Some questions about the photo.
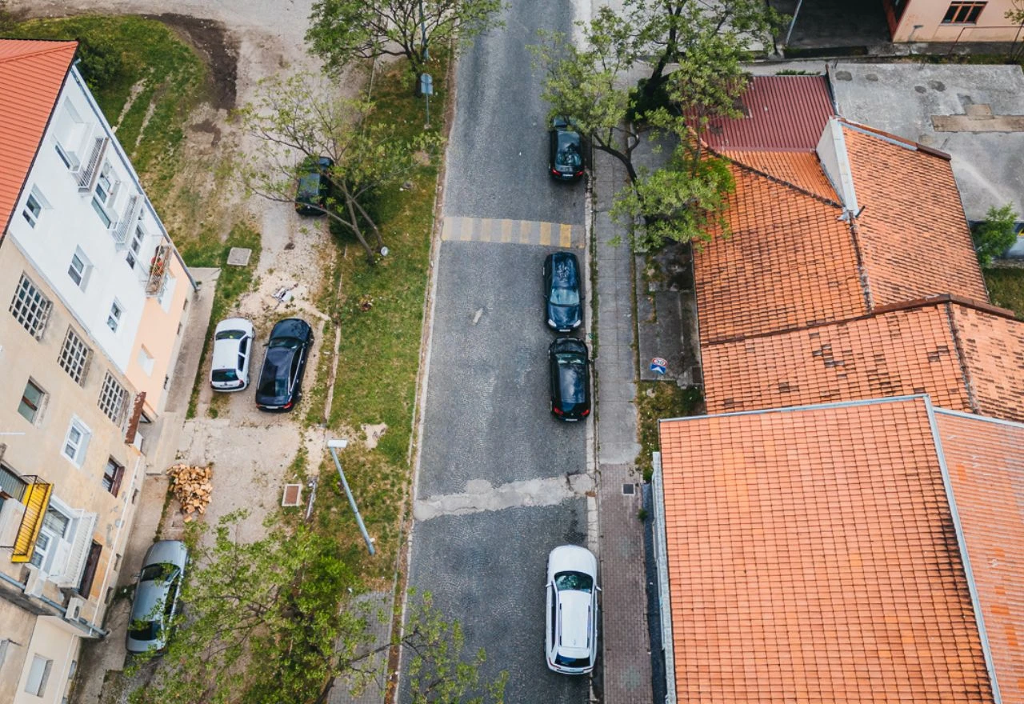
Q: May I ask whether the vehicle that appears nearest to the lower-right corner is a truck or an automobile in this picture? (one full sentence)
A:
I'd identify the vehicle that appears nearest to the lower-right corner as an automobile.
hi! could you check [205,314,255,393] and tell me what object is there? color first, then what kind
white car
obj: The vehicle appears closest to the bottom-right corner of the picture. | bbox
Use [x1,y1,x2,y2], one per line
[543,544,602,676]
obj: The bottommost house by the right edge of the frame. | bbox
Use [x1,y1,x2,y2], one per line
[647,392,1024,704]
